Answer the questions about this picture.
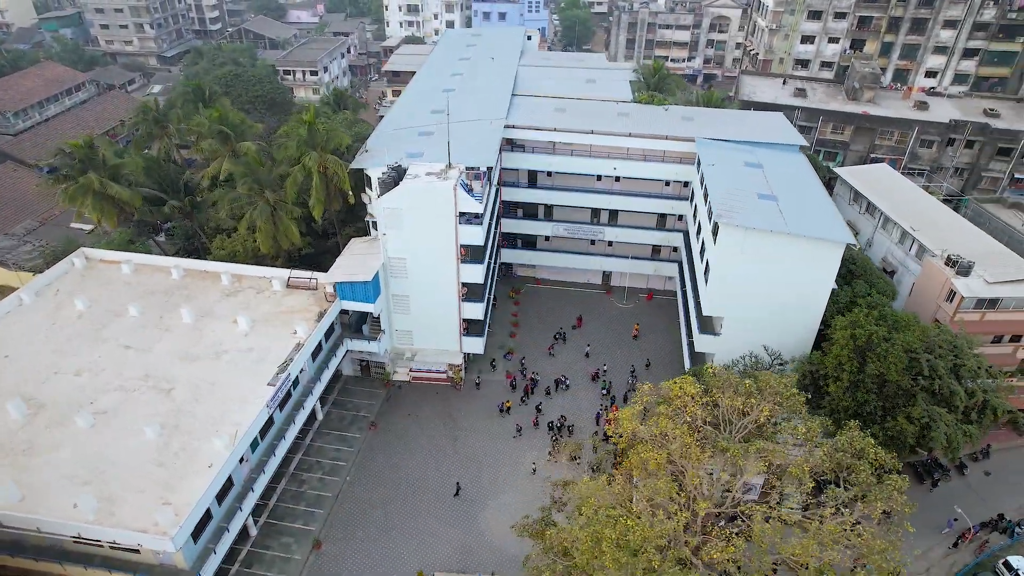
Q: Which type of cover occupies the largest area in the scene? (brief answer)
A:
buildings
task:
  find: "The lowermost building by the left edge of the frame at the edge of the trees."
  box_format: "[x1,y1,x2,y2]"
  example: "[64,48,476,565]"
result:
[0,249,355,576]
